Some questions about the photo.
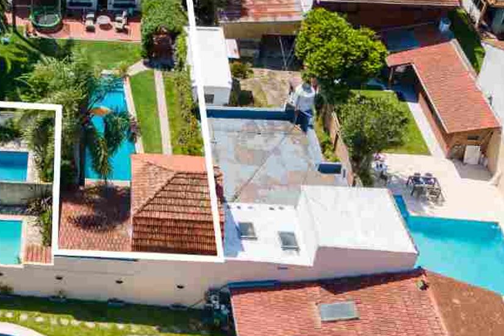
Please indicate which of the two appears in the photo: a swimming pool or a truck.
swimming pool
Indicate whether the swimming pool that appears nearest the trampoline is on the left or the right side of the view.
left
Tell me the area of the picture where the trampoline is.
top left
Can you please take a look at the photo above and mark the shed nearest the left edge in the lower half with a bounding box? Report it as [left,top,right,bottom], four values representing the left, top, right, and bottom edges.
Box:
[24,243,52,263]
